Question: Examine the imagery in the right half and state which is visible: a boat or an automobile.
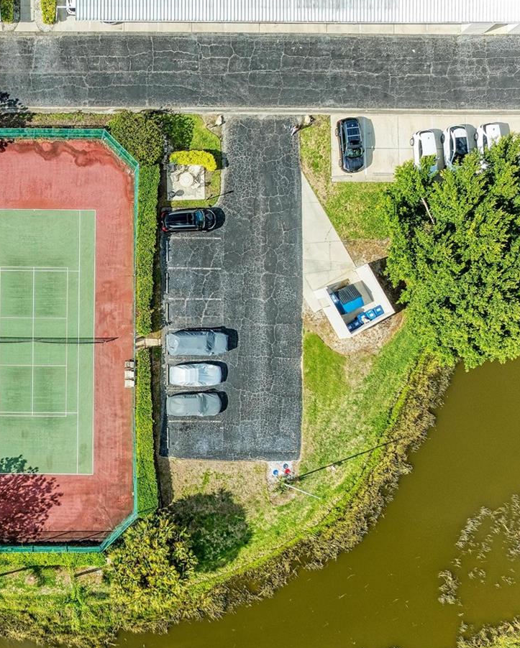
automobile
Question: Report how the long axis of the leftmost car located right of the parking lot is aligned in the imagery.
from top to bottom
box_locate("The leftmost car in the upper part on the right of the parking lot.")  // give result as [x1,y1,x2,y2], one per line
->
[338,116,368,172]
